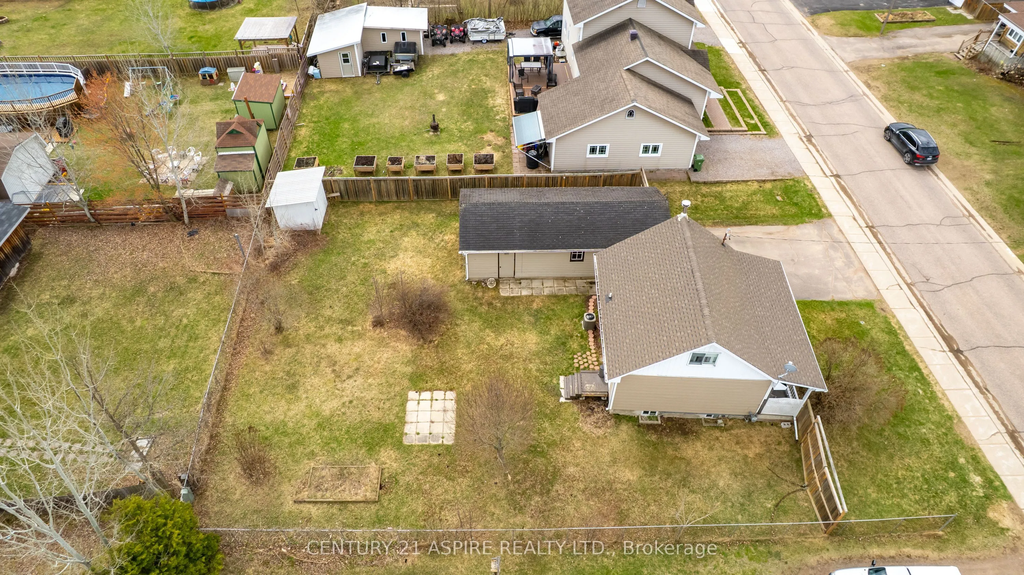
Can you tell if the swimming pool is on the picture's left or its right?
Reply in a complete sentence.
The swimming pool sits on the left side.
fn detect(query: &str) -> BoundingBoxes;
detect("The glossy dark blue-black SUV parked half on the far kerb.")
[885,126,940,167]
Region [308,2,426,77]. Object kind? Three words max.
building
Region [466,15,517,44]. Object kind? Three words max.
vehicle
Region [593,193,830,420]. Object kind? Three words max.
house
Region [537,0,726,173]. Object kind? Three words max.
house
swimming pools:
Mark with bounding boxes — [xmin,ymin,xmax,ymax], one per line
[0,59,88,110]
